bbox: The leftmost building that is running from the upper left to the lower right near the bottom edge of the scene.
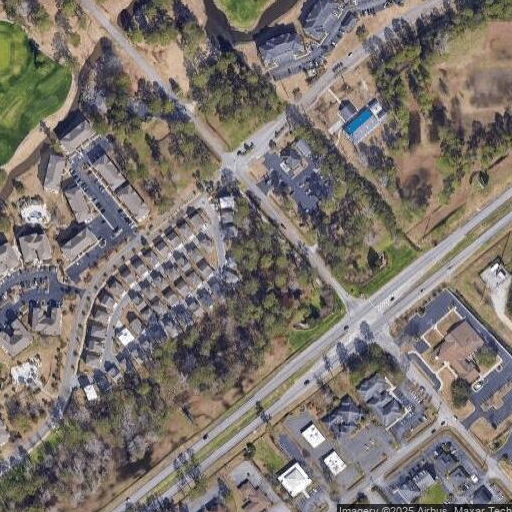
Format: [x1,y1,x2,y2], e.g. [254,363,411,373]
[235,476,273,512]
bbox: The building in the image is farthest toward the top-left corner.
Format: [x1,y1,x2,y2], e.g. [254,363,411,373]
[58,120,96,156]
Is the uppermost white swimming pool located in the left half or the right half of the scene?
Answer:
left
